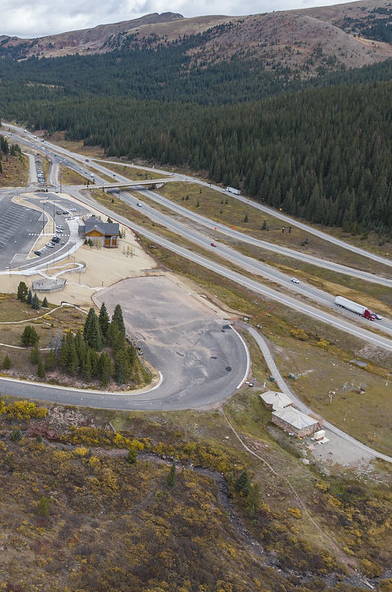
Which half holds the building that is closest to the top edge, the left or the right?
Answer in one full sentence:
It is on the left.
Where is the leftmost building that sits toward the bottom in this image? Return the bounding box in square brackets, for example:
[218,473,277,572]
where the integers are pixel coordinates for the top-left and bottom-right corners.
[260,390,293,412]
